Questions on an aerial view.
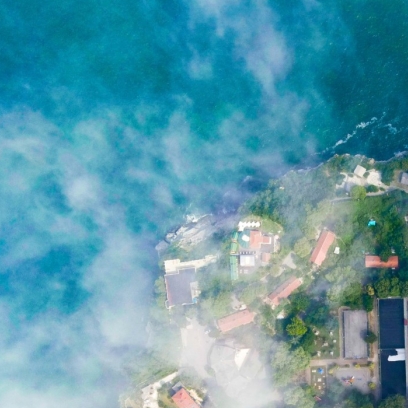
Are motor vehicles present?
No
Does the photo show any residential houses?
Yes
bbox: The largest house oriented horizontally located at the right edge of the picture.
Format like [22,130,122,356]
[364,256,398,270]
